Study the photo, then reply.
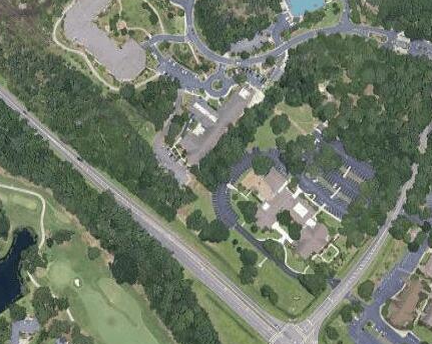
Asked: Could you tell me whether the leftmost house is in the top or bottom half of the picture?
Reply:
bottom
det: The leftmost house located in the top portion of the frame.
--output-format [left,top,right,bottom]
[65,0,147,82]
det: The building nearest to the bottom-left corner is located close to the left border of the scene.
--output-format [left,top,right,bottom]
[9,316,43,344]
